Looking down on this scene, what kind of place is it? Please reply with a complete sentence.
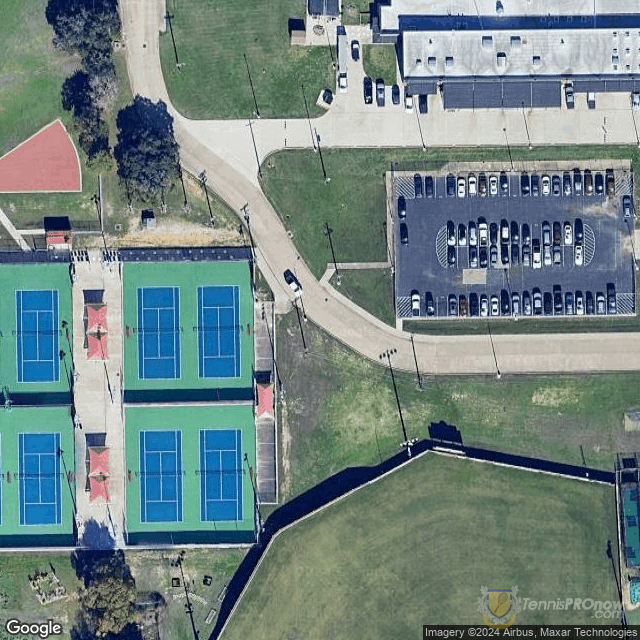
What you see here is a sports ground.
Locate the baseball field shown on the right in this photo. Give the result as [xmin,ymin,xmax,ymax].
[218,451,623,640]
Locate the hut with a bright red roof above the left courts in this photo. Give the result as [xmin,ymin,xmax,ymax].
[48,229,72,246]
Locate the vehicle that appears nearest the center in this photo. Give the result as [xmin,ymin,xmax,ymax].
[285,272,302,295]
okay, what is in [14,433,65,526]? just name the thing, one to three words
tennis court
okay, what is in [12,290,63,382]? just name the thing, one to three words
tennis court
